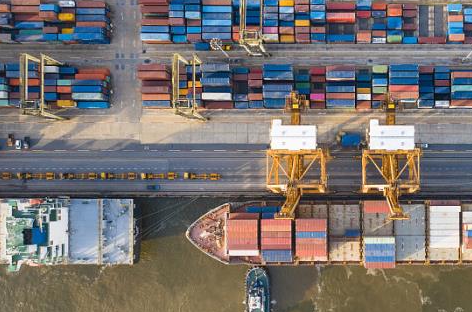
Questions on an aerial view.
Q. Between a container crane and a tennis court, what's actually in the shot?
container crane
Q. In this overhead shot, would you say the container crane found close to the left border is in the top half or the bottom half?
top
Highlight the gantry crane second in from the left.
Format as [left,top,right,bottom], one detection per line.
[172,52,209,122]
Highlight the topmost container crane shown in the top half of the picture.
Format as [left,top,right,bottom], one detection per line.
[241,0,273,57]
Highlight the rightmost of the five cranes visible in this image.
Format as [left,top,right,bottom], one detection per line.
[352,84,425,222]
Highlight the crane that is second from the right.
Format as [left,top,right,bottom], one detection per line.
[265,84,335,222]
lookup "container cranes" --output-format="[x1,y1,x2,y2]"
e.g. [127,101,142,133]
[241,0,273,57]
[14,53,66,121]
[172,52,209,122]
[352,84,425,222]
[265,84,335,222]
